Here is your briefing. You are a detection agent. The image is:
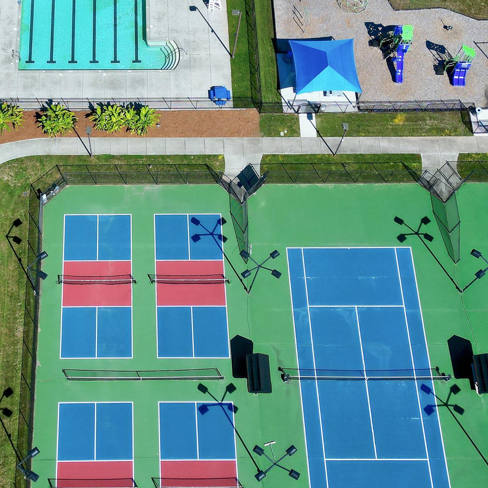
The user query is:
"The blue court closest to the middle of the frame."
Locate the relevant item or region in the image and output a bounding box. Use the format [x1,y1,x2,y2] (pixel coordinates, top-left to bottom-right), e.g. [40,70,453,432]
[154,213,230,358]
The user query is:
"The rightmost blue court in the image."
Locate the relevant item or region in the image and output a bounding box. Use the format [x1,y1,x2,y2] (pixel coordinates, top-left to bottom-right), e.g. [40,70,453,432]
[287,246,450,488]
